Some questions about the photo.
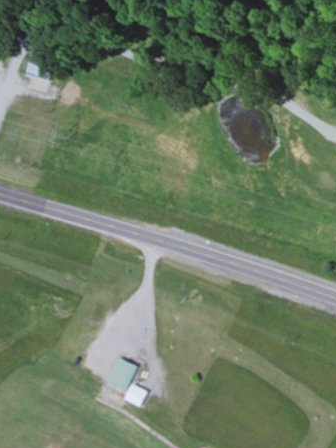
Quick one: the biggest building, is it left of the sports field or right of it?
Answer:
to the left of it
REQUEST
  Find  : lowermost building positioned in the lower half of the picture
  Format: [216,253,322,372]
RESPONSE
[125,384,150,408]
